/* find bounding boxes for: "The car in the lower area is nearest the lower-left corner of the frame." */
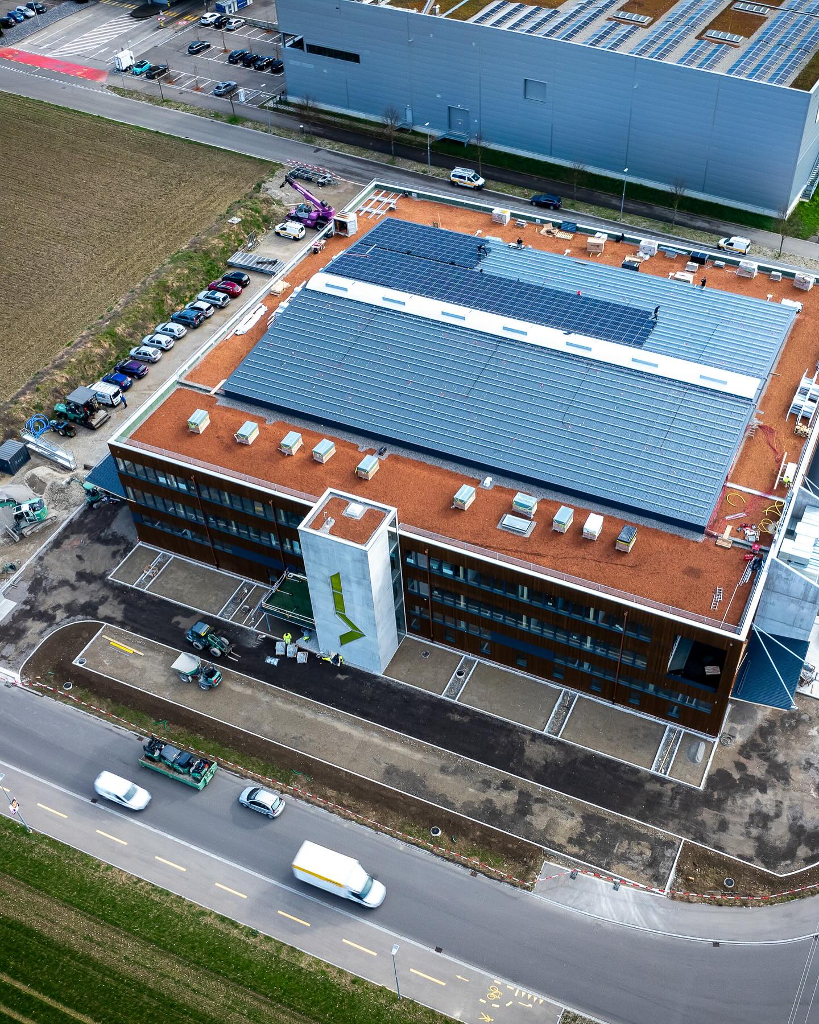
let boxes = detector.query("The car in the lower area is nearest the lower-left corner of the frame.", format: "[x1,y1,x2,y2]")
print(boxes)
[94,767,153,811]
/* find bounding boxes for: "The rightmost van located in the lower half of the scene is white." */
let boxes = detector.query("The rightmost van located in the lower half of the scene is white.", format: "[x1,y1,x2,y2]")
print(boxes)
[291,829,388,903]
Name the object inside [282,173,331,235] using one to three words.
work vehicle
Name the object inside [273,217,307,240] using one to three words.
vehicle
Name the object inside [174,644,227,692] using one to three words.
truck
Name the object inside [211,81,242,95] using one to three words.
car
